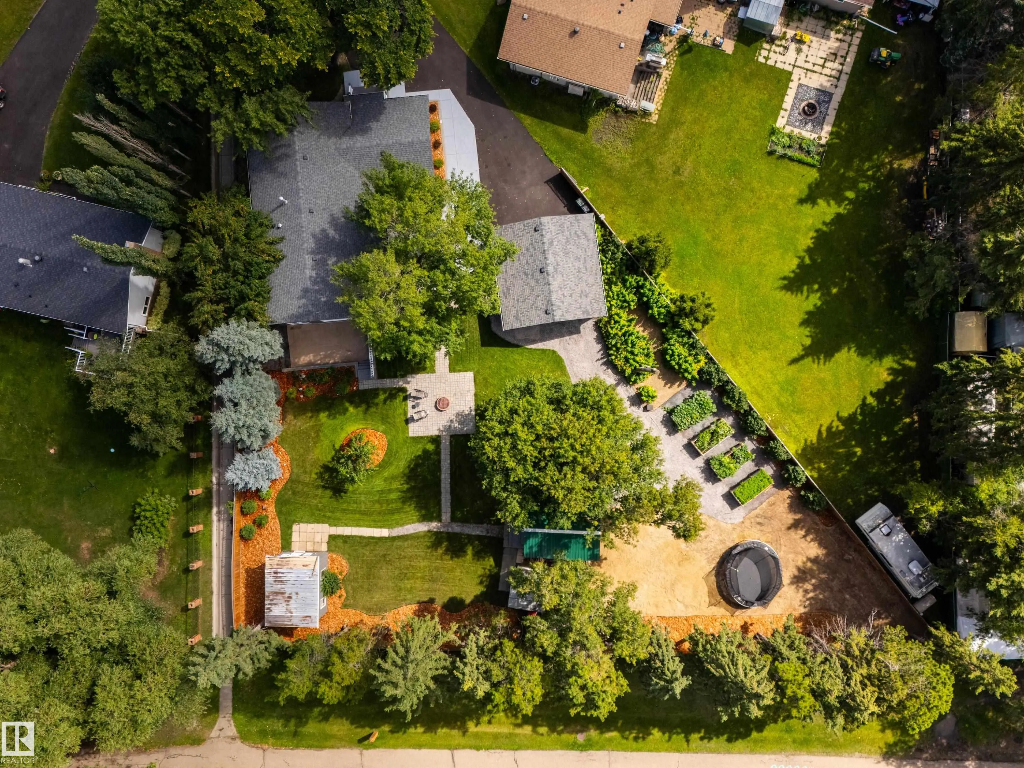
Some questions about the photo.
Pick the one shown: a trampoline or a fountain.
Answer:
trampoline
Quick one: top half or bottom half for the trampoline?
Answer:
bottom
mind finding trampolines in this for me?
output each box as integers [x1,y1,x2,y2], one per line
[720,543,791,611]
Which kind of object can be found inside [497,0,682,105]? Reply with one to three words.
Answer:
house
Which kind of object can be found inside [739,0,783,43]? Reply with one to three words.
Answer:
shed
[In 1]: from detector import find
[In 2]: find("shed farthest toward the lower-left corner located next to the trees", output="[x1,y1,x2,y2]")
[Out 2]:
[262,548,326,628]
